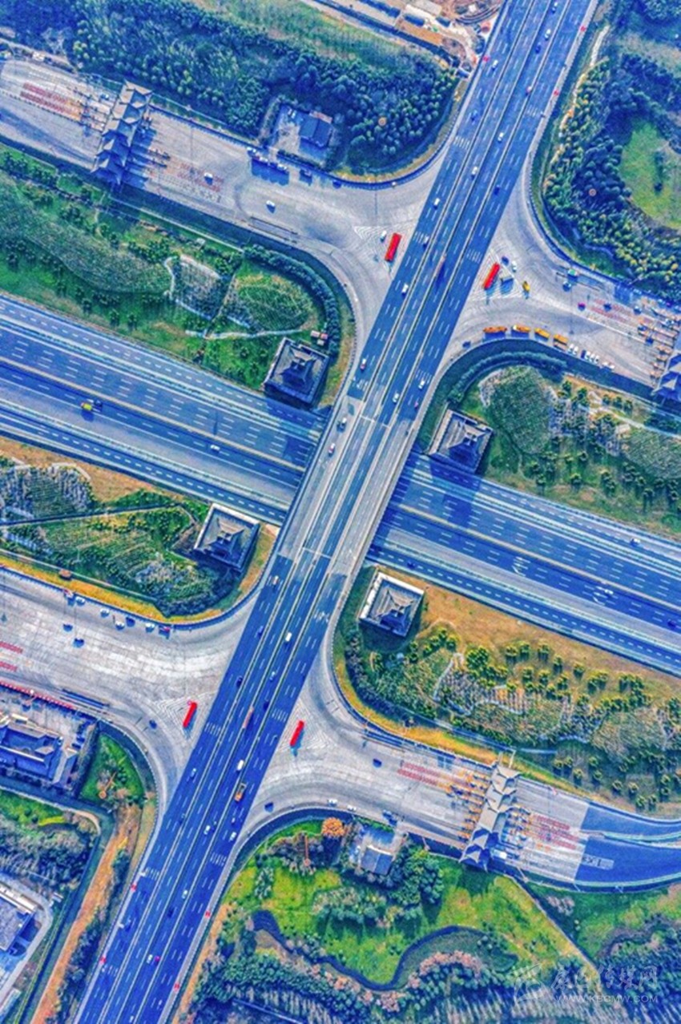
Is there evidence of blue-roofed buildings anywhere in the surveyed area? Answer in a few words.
Yes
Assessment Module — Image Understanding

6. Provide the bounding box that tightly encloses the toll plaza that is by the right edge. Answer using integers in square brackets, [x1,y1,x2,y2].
[630,289,681,403]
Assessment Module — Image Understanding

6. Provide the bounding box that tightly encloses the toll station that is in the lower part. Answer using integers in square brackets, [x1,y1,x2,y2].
[434,760,540,878]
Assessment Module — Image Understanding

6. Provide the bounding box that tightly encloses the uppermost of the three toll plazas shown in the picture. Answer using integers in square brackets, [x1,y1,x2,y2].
[83,70,159,189]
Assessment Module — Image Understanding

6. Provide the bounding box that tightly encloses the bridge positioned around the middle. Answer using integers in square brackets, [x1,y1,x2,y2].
[280,416,409,563]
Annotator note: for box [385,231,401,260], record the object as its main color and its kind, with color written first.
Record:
red vehicle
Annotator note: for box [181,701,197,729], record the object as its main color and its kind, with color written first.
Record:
red vehicle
